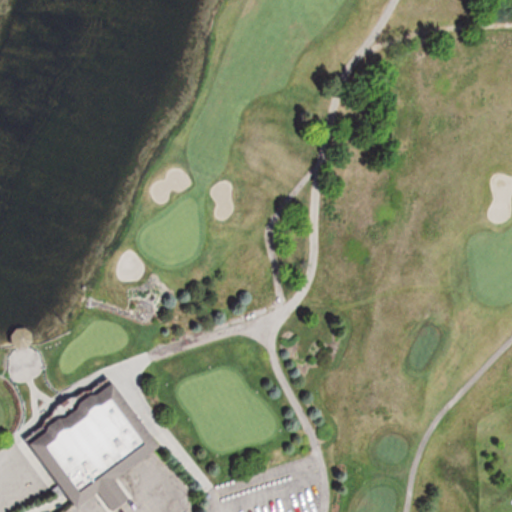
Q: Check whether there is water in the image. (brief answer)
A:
Yes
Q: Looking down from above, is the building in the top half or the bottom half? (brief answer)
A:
bottom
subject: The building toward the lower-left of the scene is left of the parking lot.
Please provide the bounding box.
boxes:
[25,379,162,512]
